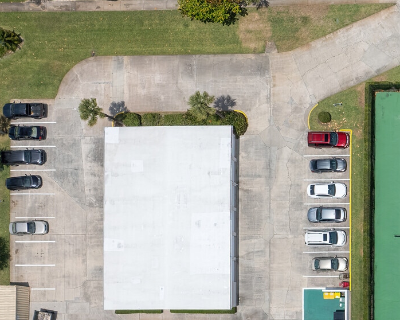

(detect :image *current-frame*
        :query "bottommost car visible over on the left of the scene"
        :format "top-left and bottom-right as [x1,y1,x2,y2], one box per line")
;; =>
[9,218,50,236]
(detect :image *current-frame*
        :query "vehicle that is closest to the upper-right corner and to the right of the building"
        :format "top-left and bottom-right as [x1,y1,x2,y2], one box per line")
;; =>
[307,128,350,148]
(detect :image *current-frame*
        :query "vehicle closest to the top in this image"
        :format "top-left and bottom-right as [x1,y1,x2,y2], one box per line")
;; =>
[2,100,50,119]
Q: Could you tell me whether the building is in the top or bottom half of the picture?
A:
bottom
